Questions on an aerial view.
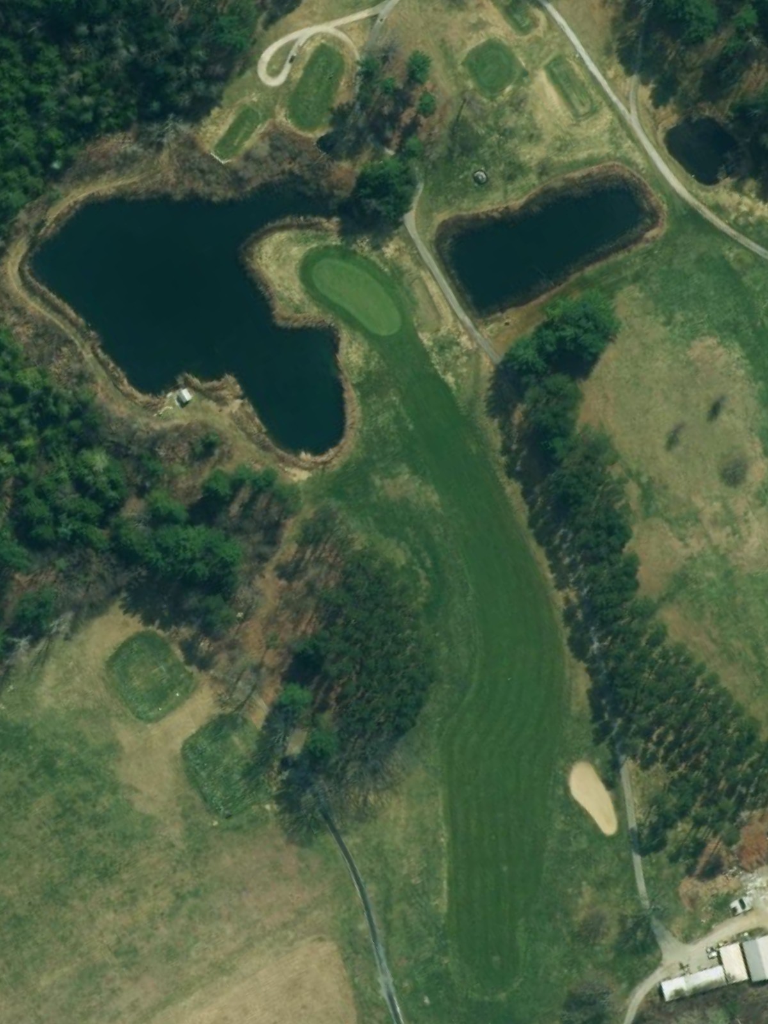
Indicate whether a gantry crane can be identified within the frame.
No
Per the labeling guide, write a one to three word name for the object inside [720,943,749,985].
shed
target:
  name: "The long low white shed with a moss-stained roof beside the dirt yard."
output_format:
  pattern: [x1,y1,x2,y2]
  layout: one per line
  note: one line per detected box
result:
[661,966,727,1002]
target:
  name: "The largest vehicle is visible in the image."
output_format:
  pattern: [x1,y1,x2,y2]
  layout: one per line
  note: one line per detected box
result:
[728,897,753,915]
